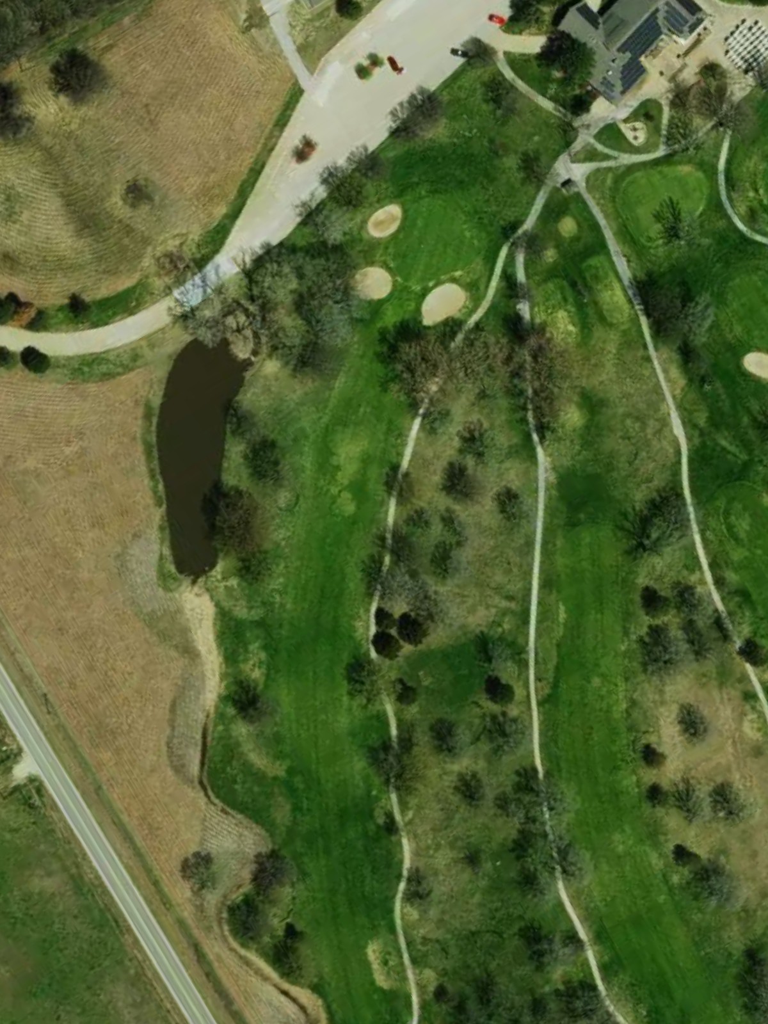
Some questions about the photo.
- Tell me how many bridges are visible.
1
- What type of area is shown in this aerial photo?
golf course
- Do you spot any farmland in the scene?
Yes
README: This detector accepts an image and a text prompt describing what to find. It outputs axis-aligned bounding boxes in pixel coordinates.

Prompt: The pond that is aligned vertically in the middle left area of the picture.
[157,336,253,576]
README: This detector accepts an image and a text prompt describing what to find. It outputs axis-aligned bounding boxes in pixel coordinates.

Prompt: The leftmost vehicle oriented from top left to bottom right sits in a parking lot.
[387,55,400,71]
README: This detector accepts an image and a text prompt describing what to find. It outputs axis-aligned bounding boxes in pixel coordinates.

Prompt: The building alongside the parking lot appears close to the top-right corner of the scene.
[556,0,712,104]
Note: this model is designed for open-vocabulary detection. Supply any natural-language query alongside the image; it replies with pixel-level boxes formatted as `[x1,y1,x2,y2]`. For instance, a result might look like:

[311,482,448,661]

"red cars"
[387,55,400,71]
[488,13,506,24]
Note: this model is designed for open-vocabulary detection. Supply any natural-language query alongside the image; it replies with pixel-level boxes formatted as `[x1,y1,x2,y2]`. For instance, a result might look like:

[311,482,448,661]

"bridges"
[176,256,232,309]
